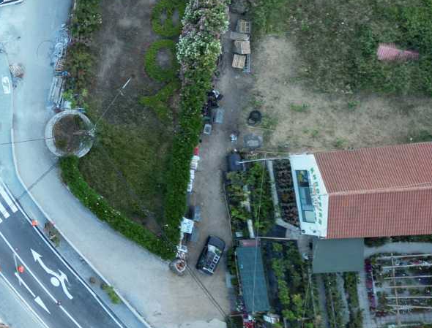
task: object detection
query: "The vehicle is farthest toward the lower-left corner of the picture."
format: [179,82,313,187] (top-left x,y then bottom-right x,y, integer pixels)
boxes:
[197,231,225,279]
